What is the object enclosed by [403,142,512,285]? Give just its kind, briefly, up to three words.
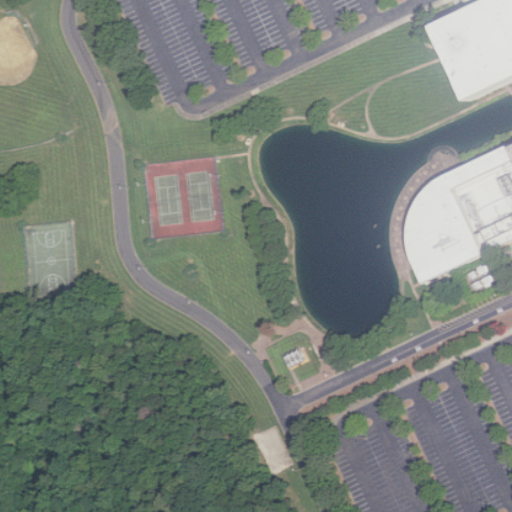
building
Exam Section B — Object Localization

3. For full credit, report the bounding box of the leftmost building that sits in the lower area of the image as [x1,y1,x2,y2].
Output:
[283,347,310,372]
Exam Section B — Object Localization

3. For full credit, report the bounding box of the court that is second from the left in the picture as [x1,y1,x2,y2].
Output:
[146,162,188,238]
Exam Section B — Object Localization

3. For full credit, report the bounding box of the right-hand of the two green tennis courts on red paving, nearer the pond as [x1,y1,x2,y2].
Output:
[182,158,223,234]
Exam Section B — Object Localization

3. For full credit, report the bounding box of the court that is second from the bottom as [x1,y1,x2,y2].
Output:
[24,220,78,300]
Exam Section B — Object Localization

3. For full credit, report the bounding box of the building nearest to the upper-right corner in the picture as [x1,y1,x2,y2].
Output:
[424,0,512,105]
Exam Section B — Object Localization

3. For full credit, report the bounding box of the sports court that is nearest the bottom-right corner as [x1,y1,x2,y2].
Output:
[253,426,294,474]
